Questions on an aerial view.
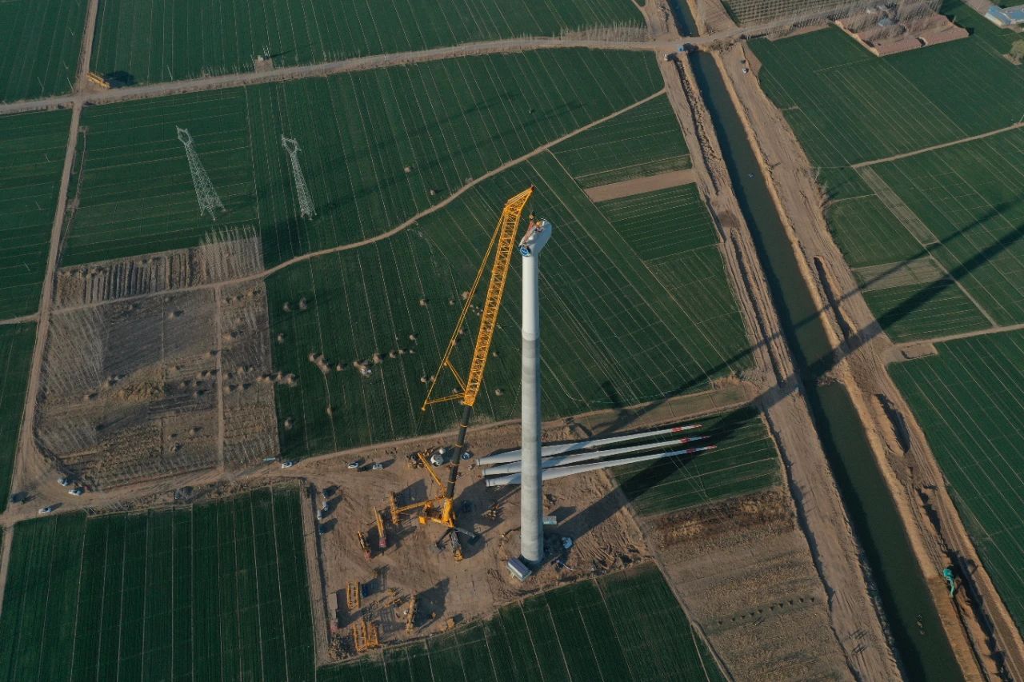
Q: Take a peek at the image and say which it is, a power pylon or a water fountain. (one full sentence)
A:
Visible in the photo is a power pylon.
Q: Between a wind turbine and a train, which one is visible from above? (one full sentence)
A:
Of the two, only a wind turbine appears.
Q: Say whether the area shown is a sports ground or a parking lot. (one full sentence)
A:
The picture captures a parking lot.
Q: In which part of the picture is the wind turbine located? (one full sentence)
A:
The wind turbine is located in the center region of the scene.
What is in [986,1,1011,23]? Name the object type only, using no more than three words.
building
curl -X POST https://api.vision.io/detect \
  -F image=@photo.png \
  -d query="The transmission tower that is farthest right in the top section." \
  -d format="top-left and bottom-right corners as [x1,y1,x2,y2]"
[279,132,321,223]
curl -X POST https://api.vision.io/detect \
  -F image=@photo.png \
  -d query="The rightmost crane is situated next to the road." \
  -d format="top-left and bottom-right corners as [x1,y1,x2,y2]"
[395,185,535,556]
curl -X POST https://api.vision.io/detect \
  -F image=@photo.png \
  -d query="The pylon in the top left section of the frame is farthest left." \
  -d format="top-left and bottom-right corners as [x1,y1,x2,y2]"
[174,123,225,219]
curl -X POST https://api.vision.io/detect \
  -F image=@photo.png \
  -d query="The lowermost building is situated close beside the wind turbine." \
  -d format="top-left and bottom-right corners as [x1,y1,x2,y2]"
[506,557,531,584]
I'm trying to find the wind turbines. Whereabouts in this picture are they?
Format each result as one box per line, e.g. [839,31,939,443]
[517,214,552,566]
